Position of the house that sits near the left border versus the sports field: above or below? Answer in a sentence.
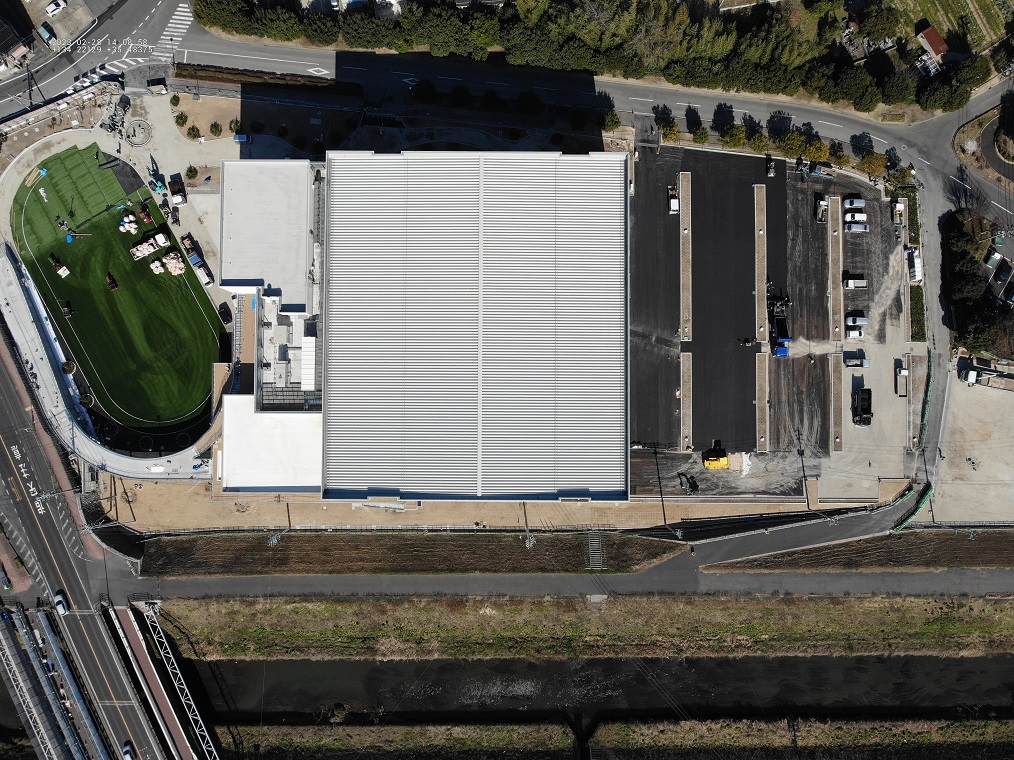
As seen from overhead, the house that sits near the left border falls above the sports field in the picture.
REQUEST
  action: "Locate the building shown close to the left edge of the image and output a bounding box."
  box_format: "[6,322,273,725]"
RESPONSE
[0,19,41,71]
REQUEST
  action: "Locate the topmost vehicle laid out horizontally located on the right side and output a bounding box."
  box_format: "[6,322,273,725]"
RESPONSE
[810,164,837,180]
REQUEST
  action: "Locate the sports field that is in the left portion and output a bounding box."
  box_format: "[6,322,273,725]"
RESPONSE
[11,142,225,434]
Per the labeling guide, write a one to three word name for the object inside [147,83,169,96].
vehicle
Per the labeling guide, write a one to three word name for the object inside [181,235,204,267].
truck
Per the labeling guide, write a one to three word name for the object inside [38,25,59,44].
car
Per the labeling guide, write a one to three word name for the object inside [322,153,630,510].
building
